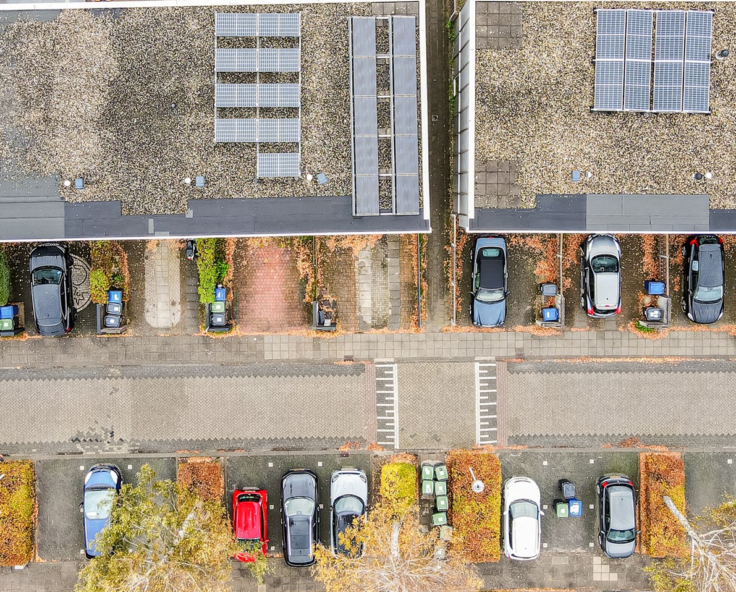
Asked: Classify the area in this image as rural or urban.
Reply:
urban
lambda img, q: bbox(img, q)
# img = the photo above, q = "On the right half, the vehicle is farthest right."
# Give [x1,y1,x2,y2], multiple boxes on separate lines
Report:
[682,235,729,324]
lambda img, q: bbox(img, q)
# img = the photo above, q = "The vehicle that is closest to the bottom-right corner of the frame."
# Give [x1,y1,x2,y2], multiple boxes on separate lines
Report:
[597,470,642,555]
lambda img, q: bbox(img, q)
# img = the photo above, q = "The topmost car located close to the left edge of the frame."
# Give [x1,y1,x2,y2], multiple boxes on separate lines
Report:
[24,244,74,335]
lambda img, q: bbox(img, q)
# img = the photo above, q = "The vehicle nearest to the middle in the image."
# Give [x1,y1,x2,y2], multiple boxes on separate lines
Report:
[468,234,511,326]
